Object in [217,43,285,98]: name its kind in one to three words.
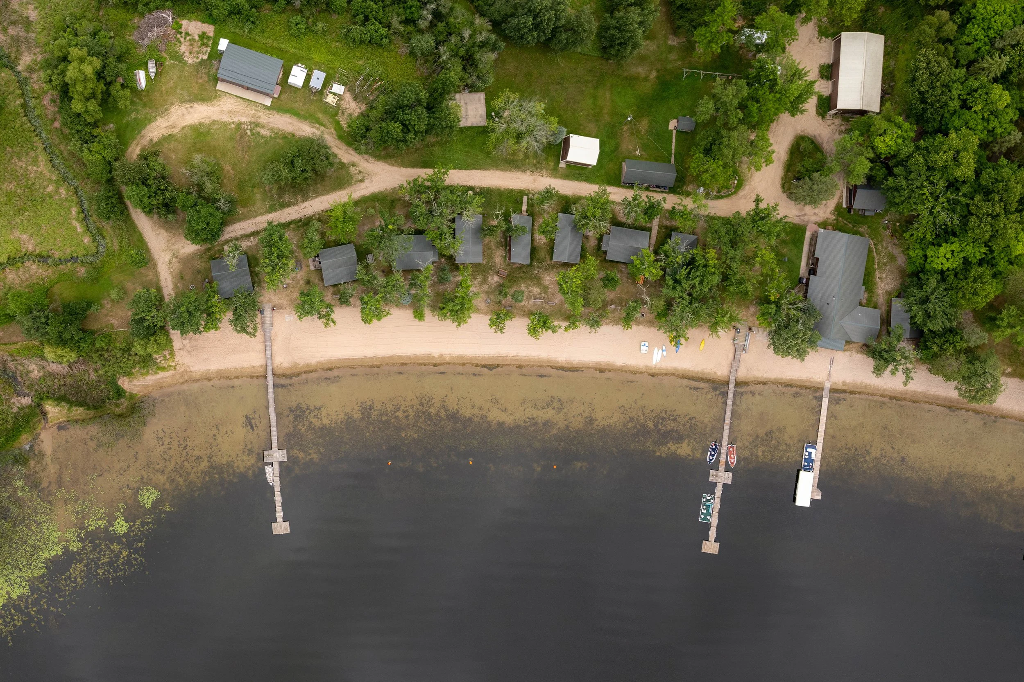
building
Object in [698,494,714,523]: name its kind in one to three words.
boat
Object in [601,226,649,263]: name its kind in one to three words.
building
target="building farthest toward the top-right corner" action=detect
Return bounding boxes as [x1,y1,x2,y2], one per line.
[829,29,884,121]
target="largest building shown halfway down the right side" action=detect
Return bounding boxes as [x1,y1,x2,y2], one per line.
[804,230,881,351]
